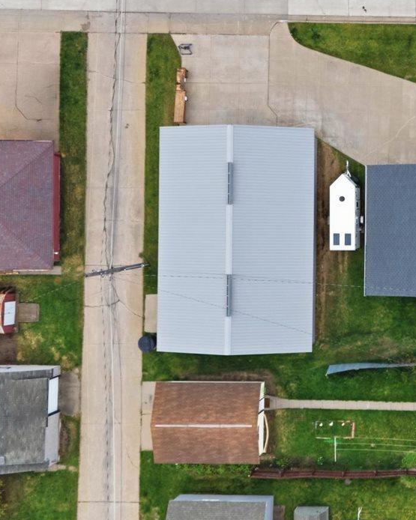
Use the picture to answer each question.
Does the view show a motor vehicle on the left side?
No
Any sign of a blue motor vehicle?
No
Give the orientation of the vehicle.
vertically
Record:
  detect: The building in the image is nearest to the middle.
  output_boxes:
[156,124,322,356]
